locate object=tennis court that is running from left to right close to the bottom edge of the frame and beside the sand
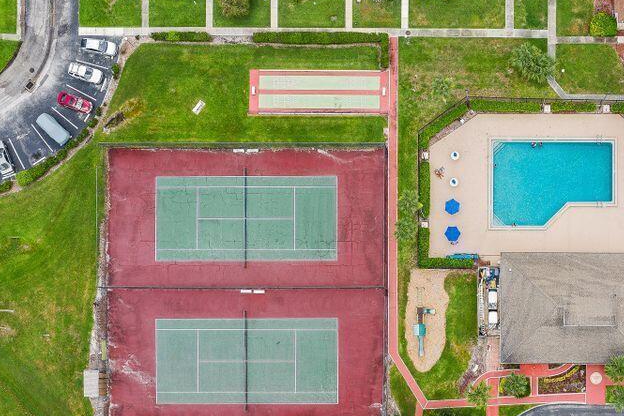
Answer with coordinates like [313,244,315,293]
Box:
[107,290,384,416]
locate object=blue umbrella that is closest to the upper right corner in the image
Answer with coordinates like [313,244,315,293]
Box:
[445,198,459,214]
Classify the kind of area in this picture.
sports ground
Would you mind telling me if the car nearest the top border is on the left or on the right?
left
